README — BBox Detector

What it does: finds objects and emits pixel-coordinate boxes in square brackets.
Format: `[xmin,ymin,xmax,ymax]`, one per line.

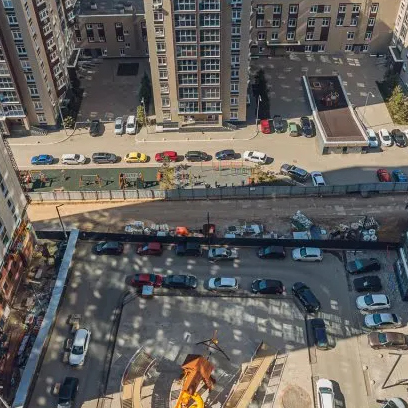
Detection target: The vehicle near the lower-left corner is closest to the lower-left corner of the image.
[55,377,82,408]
